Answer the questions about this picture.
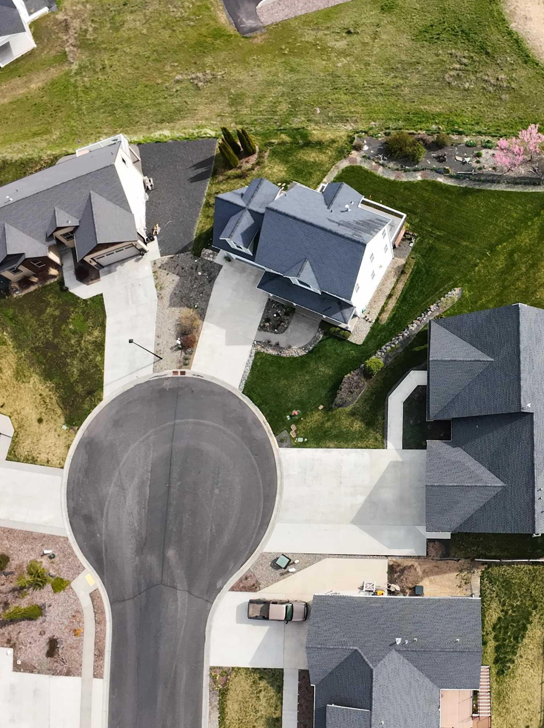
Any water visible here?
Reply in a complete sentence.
No, there is no water in the image.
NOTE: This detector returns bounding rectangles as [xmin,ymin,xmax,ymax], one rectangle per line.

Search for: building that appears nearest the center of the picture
[212,173,406,331]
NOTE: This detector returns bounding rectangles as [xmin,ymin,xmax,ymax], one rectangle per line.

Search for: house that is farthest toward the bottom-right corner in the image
[305,593,491,728]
